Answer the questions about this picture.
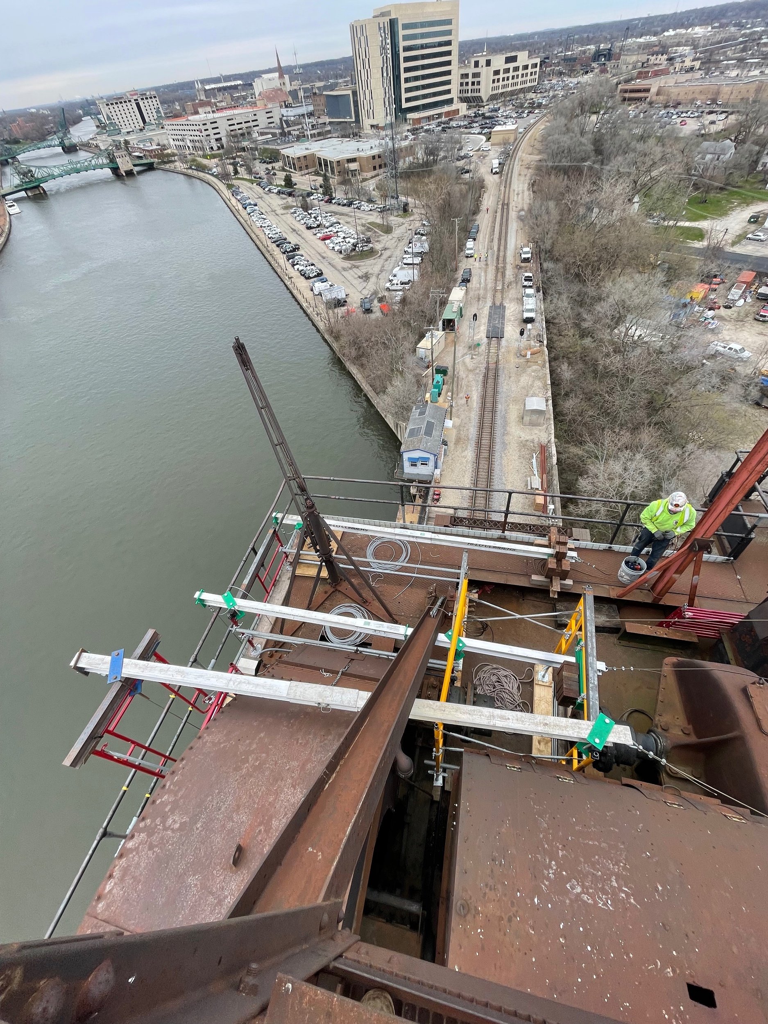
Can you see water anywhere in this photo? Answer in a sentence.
Yes, there's water in this view.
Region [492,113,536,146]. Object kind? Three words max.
building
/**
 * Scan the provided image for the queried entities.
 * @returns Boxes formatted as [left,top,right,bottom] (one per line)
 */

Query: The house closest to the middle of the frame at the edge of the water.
[395,398,446,485]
